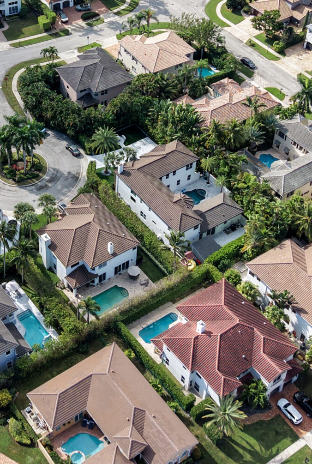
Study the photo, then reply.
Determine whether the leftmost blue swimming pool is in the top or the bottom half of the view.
bottom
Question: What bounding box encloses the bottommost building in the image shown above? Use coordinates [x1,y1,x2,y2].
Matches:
[28,345,213,464]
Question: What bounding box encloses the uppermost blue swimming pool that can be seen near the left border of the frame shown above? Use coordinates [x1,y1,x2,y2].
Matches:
[14,307,51,349]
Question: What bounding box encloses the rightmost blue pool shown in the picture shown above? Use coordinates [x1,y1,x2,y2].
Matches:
[257,152,278,169]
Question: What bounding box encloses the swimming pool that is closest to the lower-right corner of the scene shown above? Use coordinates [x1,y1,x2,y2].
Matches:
[138,312,179,344]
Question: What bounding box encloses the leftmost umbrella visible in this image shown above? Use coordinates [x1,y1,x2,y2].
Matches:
[125,265,142,278]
